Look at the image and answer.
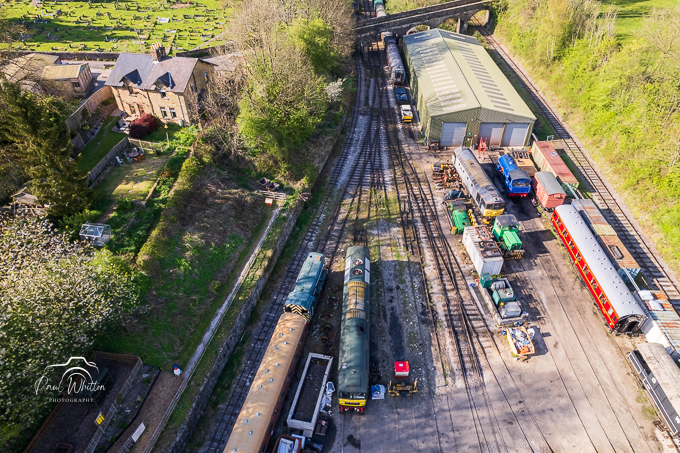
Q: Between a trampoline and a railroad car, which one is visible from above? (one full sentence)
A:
Of the two, only a railroad car appears.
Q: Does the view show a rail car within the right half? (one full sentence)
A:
Yes, a rail car is visible within the right half.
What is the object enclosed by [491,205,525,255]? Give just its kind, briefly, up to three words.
rail car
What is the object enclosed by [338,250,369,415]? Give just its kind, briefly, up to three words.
rail car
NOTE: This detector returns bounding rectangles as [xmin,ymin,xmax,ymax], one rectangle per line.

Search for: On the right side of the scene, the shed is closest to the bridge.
[402,29,543,149]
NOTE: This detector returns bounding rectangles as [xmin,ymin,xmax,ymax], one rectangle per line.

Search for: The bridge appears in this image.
[339,0,517,48]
